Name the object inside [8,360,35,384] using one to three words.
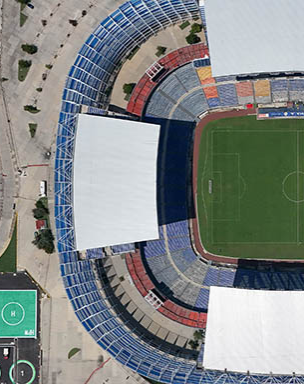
helipad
